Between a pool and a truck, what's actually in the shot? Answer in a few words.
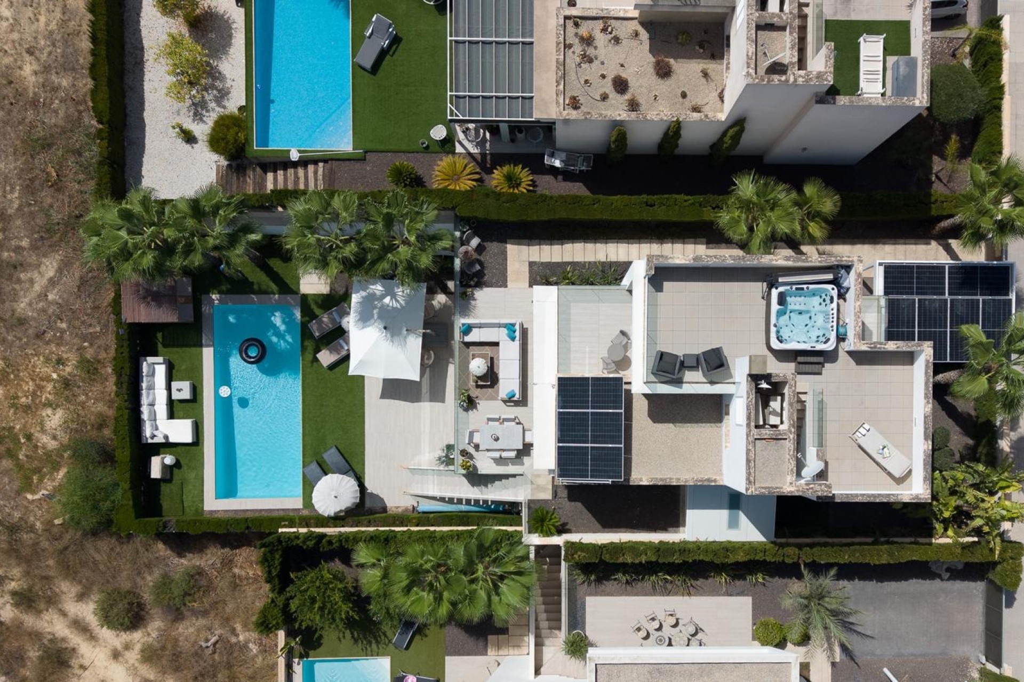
pool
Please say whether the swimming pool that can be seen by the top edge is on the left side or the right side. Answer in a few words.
left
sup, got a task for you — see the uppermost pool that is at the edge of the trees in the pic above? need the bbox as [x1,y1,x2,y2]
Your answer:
[254,0,352,149]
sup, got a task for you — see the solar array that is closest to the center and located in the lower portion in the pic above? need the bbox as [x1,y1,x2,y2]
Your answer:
[557,376,623,484]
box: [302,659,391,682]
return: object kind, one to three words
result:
swimming pool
